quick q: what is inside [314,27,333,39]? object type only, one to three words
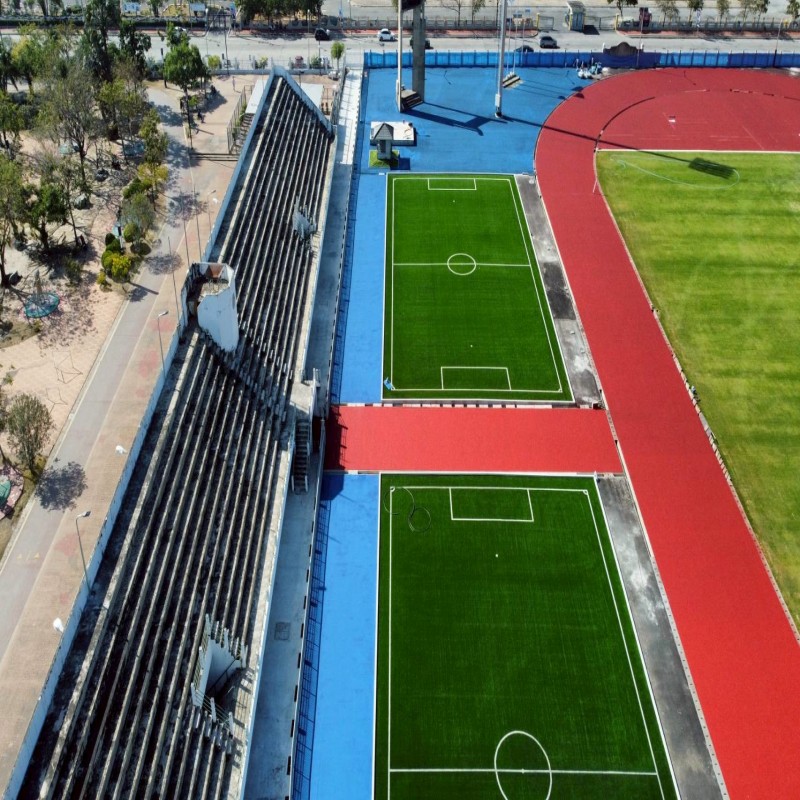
vehicle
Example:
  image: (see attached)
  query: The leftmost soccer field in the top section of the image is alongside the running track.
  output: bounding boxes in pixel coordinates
[380,173,576,400]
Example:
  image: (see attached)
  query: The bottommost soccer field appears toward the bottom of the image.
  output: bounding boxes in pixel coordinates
[372,473,680,800]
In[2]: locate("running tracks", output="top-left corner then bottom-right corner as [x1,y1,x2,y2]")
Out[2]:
[535,66,800,800]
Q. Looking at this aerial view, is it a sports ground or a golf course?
sports ground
